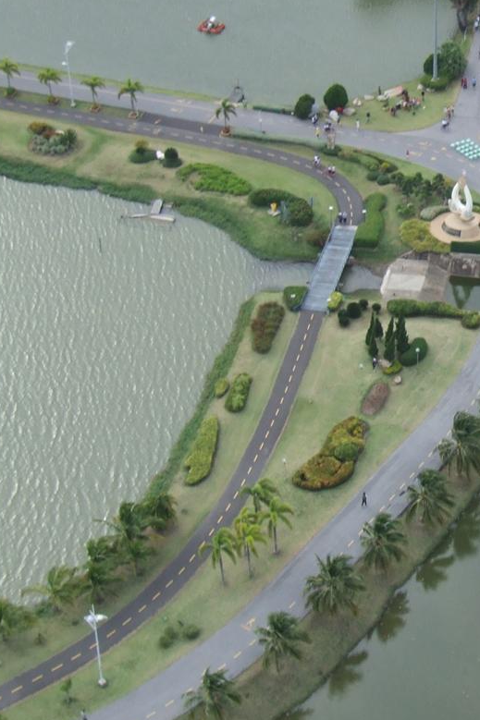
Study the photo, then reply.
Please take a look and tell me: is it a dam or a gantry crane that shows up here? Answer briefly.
dam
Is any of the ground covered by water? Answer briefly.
Yes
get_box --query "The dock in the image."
[119,198,174,217]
